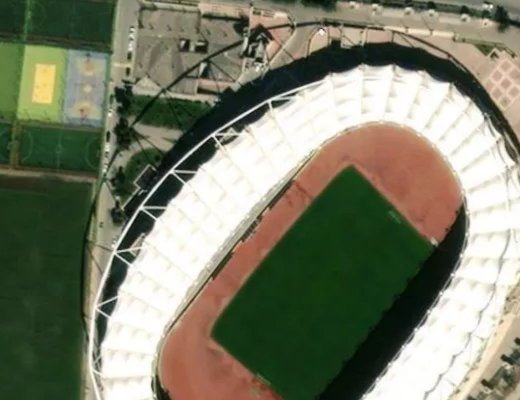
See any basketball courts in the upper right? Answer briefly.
No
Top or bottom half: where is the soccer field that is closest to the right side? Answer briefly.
bottom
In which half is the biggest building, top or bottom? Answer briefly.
top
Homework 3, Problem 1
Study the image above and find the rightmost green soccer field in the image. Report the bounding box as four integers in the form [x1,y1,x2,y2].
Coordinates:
[210,165,453,400]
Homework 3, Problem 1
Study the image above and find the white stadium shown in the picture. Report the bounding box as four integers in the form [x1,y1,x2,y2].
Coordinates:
[84,64,520,400]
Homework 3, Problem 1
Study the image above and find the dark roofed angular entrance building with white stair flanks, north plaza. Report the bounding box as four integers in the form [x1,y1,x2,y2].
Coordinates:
[240,26,269,67]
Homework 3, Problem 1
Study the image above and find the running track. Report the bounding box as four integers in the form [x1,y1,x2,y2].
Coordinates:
[157,124,468,400]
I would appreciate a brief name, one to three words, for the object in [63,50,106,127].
basketball court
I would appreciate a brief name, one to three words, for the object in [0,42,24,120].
sports court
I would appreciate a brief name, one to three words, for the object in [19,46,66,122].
sports court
